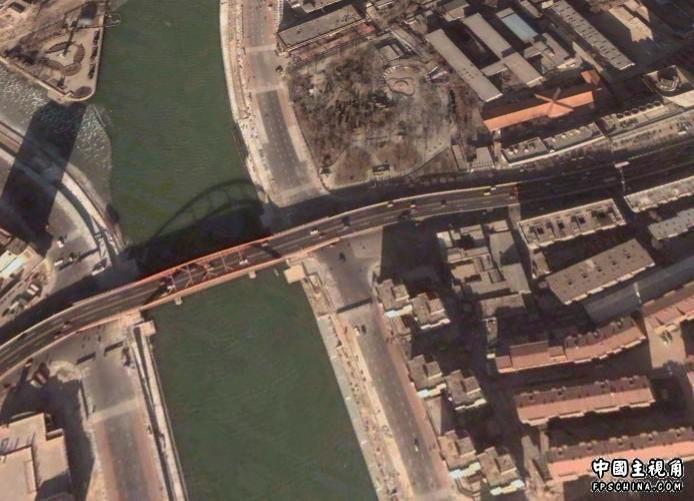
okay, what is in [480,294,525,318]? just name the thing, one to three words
house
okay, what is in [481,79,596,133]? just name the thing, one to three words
building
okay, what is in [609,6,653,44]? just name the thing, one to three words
house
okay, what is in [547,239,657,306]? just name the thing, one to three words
building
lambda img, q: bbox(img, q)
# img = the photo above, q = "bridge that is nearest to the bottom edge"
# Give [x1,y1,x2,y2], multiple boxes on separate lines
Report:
[0,175,569,381]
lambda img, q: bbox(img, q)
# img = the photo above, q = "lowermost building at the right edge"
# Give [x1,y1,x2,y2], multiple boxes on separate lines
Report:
[546,426,694,485]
